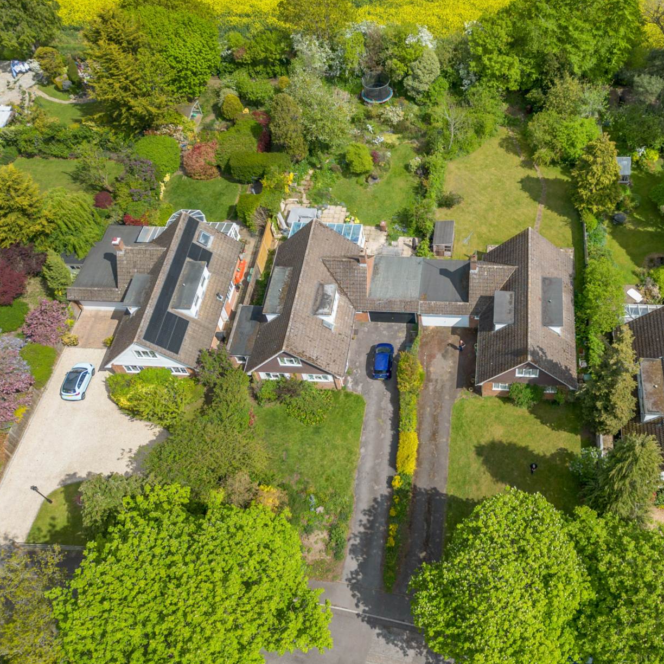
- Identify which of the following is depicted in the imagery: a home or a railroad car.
home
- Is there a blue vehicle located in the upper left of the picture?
No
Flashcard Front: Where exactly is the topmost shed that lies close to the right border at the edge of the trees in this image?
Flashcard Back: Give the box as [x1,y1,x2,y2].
[613,156,633,188]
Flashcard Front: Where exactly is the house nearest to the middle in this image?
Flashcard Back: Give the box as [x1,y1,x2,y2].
[227,218,423,393]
